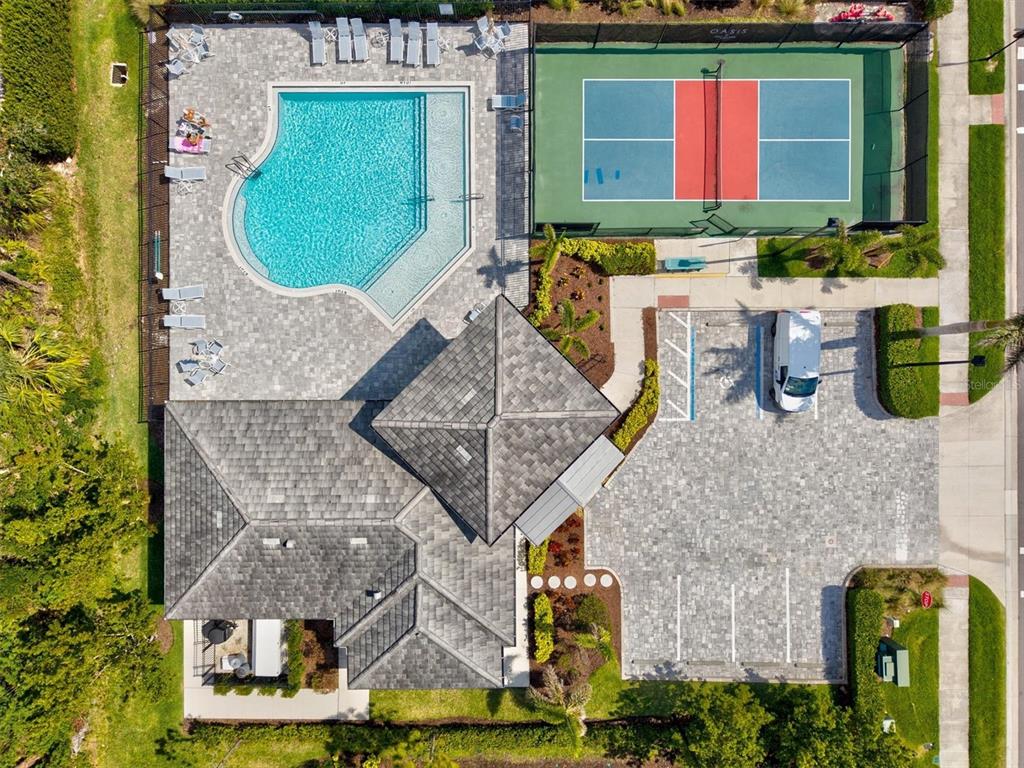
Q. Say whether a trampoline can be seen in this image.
No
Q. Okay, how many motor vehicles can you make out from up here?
1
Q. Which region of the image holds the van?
right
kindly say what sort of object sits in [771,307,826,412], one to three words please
van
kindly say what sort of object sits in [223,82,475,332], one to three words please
swimming pool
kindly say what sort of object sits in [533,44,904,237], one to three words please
sports court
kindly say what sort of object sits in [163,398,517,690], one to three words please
building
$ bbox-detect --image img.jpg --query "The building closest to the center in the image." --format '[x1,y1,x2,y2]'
[367,291,622,546]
